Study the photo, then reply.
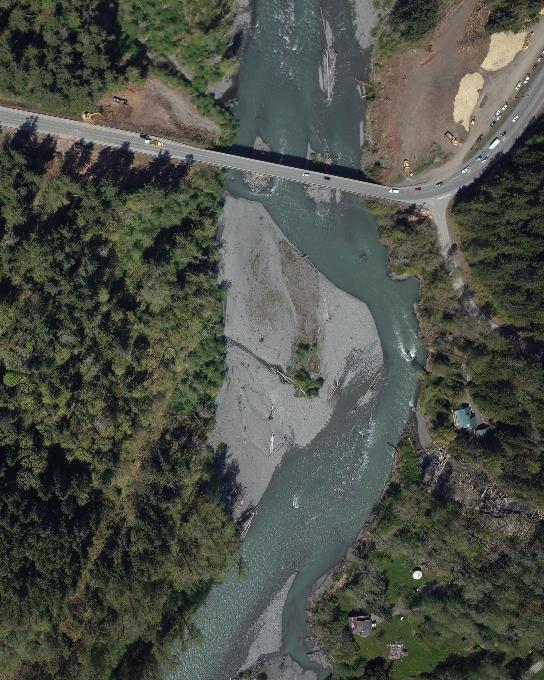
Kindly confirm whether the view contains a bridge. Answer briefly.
Yes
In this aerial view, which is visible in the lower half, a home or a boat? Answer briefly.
home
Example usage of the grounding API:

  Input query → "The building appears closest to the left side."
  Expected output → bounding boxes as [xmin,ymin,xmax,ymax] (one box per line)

[349,610,374,637]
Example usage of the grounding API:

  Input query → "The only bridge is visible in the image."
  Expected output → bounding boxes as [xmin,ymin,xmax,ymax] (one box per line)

[212,150,384,199]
